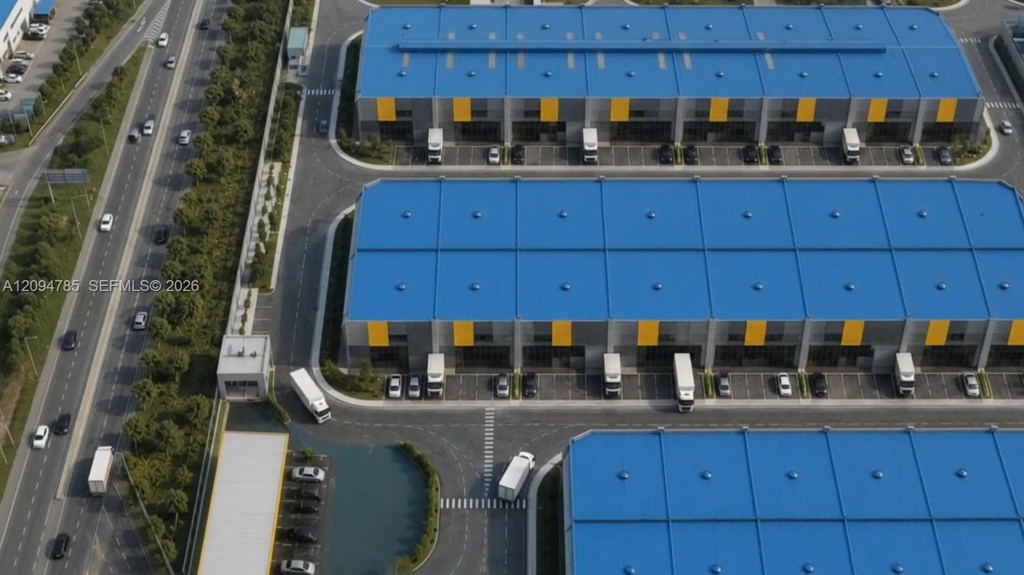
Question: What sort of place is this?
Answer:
industrial area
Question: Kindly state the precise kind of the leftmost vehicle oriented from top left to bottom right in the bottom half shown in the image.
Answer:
truck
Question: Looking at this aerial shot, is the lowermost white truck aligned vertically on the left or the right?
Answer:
left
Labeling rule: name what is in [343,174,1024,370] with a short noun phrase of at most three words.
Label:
warehouse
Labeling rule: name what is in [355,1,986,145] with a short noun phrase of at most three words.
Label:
warehouse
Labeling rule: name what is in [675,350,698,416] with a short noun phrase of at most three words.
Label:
truck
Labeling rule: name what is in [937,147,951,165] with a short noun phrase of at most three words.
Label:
car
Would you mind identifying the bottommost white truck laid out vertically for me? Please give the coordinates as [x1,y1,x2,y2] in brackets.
[84,448,117,504]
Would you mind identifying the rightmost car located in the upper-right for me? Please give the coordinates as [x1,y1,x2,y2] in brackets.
[998,120,1015,136]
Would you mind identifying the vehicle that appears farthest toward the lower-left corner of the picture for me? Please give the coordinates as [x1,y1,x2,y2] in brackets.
[50,535,69,562]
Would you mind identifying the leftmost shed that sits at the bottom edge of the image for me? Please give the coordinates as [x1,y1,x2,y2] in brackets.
[199,432,290,575]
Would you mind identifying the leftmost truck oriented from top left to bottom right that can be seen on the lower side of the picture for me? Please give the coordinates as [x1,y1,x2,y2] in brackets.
[290,365,338,430]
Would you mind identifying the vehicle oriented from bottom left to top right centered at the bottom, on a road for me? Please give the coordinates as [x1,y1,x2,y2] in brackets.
[496,449,539,506]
